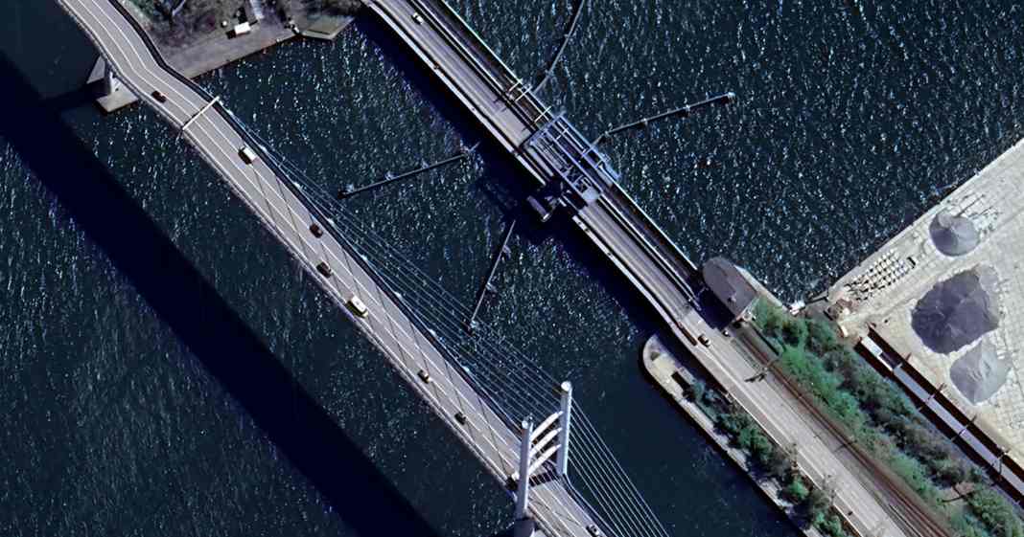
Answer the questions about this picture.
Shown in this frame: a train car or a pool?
train car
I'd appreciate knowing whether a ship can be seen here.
No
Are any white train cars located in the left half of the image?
No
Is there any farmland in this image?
No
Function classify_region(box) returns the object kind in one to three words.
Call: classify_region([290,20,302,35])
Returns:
vehicle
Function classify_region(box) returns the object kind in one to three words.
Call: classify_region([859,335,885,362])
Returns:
rail car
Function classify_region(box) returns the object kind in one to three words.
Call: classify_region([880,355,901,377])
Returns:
rail car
